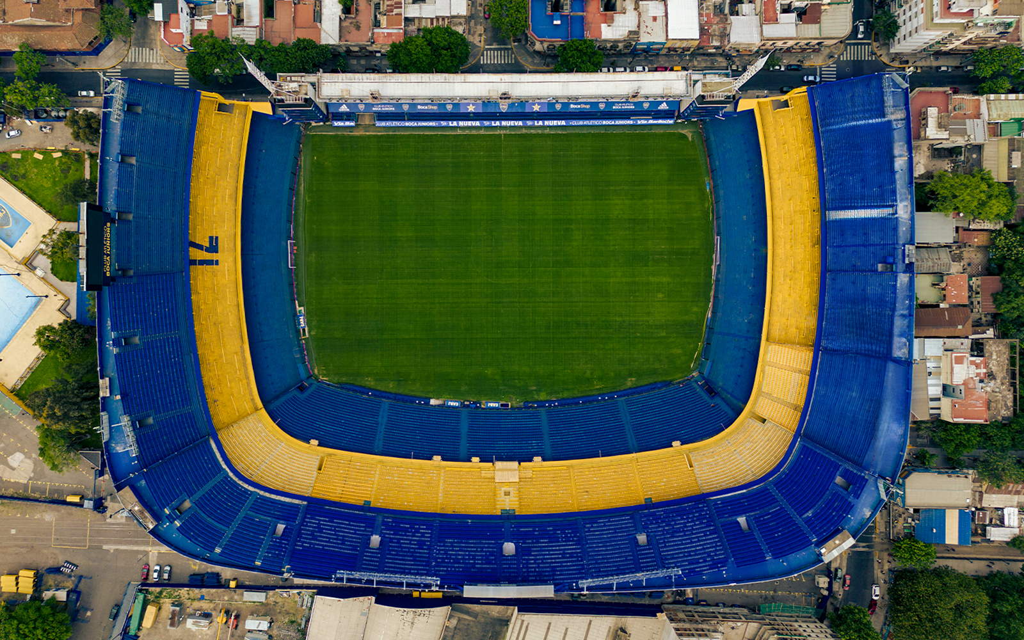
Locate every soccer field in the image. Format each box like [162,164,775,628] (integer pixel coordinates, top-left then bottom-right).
[293,119,716,410]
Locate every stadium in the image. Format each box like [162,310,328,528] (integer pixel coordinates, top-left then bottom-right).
[93,69,918,598]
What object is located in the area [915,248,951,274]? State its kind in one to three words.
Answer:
house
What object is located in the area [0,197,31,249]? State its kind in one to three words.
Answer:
swimming pool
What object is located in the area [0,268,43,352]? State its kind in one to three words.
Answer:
swimming pool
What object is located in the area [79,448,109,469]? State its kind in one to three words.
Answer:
shed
